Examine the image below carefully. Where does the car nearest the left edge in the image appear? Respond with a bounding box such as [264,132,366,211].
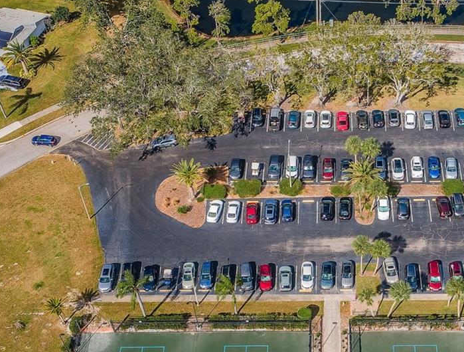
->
[1,75,27,89]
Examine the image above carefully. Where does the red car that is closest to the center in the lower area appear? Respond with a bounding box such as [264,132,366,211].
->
[246,202,260,224]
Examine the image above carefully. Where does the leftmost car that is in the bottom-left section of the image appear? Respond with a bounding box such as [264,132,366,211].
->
[98,264,115,292]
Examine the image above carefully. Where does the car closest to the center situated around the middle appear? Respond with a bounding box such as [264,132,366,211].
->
[230,157,244,181]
